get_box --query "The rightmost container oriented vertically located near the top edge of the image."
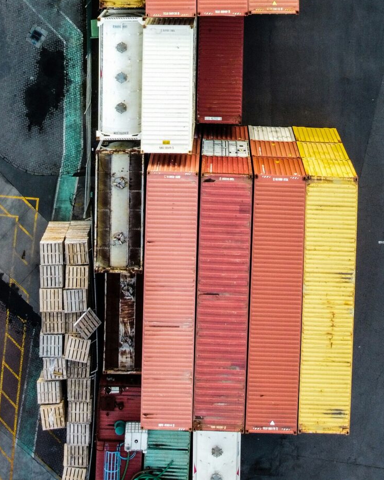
[198,15,242,124]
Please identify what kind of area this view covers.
industrial area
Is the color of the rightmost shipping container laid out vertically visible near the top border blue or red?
red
